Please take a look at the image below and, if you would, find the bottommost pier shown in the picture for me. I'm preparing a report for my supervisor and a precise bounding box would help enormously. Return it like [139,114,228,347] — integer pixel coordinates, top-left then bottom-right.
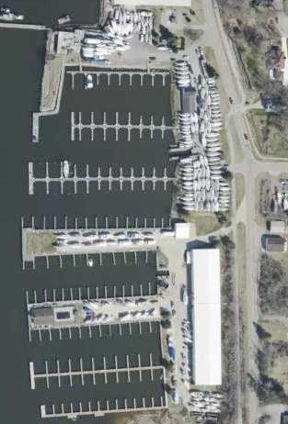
[41,397,167,419]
